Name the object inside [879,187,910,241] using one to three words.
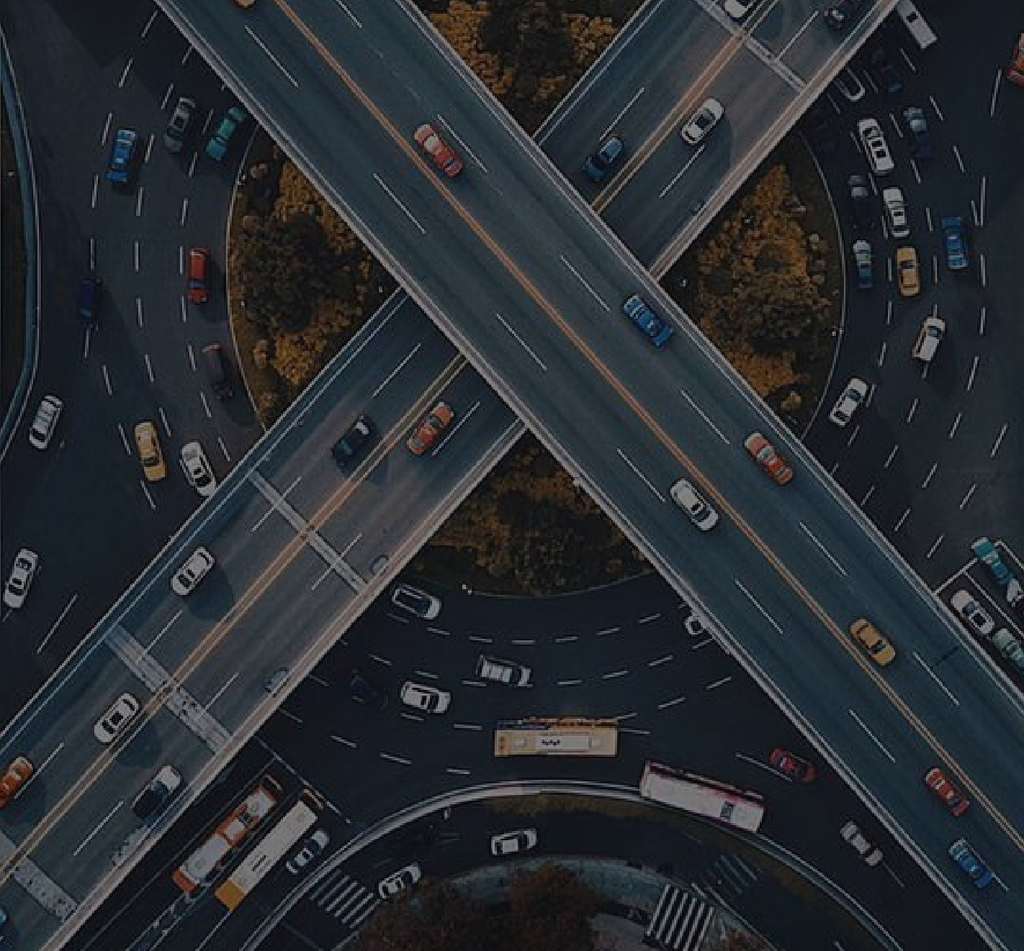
car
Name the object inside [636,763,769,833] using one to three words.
bus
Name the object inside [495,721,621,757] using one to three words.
bus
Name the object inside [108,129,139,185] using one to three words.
car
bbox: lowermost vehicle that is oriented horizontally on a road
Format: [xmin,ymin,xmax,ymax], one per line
[488,825,540,854]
